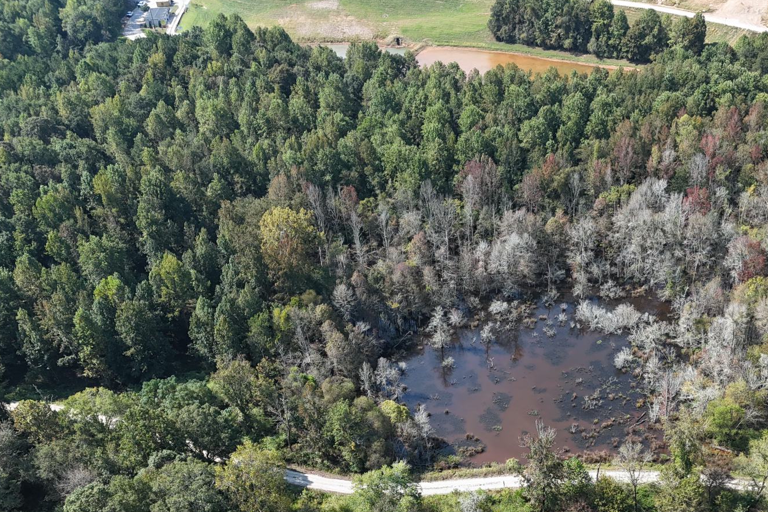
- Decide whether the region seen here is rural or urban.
rural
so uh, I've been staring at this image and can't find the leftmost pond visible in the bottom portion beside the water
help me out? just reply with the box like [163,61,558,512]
[381,288,679,465]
